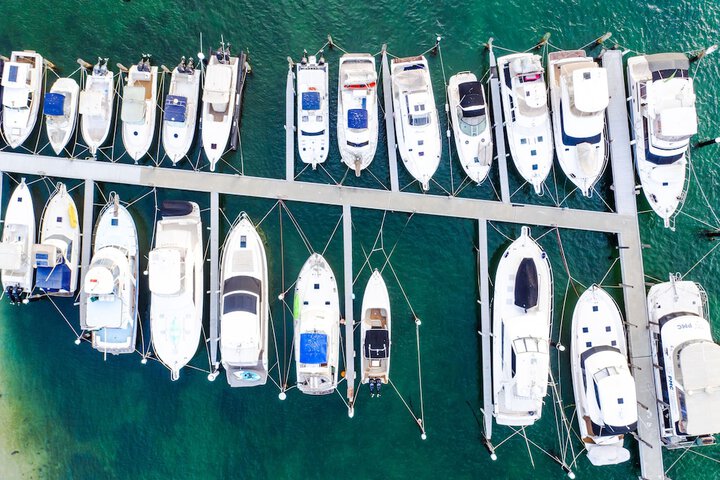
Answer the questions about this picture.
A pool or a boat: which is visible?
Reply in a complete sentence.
The one in the frame is a boat.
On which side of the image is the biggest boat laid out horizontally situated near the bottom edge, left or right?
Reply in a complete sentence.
It is on the right.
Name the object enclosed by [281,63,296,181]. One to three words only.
pier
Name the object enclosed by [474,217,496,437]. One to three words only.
pier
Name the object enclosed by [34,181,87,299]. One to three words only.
boat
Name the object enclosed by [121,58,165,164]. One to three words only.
boat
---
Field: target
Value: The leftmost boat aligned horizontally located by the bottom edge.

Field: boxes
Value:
[584,444,627,464]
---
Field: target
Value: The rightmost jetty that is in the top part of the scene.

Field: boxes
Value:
[603,50,638,212]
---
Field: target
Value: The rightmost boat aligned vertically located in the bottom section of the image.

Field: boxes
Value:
[641,275,720,450]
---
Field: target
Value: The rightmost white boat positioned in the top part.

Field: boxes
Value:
[625,55,701,229]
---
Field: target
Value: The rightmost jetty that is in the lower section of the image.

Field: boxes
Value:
[615,210,664,480]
